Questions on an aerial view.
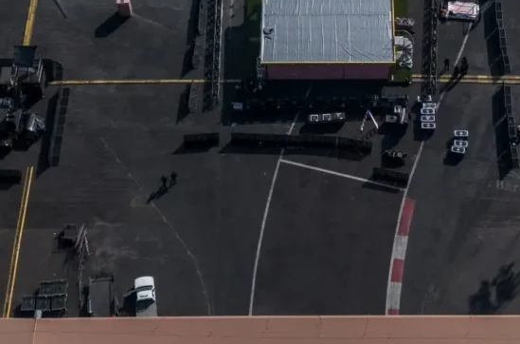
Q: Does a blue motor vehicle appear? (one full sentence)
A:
No, the frame has no blue motor vehicle in it.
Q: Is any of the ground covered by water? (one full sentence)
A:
No, there is no water in the image.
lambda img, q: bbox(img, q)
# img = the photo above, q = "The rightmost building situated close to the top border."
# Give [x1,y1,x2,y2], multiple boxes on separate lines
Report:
[258,0,396,82]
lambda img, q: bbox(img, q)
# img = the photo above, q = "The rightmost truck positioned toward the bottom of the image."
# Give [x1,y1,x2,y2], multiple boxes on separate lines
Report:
[129,267,158,315]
